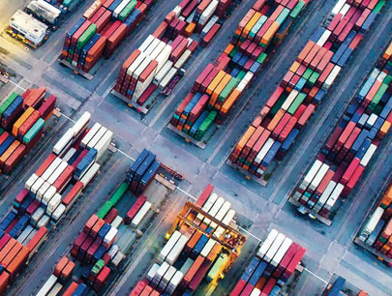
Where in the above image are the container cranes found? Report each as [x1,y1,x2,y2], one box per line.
[163,201,251,282]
